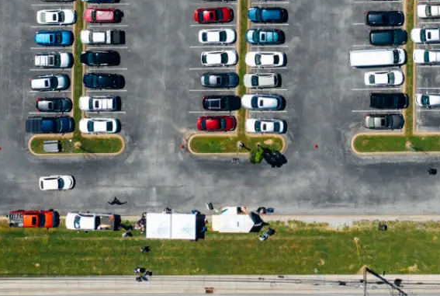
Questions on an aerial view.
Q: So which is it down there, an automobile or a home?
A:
automobile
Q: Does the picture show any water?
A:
No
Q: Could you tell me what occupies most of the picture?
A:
paved ground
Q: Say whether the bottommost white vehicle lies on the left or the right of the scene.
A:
left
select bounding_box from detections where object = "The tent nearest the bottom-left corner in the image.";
[146,209,173,240]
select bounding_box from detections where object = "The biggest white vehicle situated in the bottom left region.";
[67,213,121,233]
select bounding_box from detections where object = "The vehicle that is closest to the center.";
[198,115,236,133]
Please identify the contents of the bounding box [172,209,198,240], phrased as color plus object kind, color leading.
white tent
